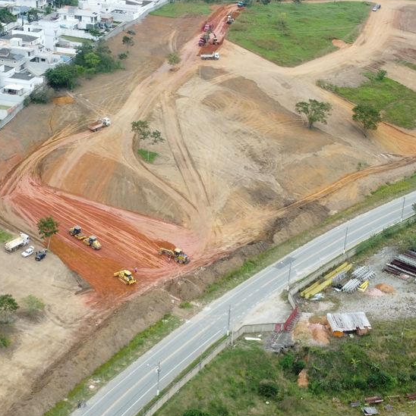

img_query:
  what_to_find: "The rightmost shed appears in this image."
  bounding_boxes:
[320,308,372,337]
